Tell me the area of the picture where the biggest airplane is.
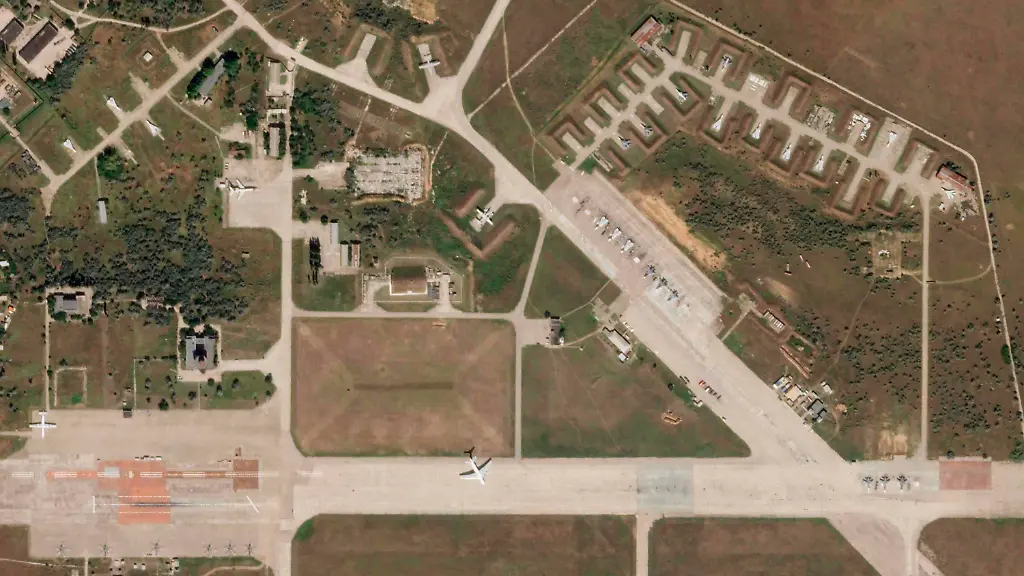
bottom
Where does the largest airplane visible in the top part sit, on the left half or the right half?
left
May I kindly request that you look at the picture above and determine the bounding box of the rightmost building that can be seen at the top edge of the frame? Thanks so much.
[631,17,662,48]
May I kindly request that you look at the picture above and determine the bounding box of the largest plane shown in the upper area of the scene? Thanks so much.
[227,180,253,200]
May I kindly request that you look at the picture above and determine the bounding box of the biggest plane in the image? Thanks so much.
[460,457,492,486]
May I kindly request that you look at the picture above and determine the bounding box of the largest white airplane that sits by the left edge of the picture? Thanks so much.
[29,413,56,437]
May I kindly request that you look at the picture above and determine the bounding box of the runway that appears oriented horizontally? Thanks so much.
[290,457,1024,518]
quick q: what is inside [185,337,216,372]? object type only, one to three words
building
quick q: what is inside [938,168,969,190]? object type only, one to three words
hangar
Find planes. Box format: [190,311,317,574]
[814,157,823,172]
[943,188,956,201]
[880,476,891,490]
[644,263,655,278]
[676,89,688,103]
[460,457,492,486]
[622,238,633,251]
[610,226,622,240]
[656,275,667,289]
[419,56,439,72]
[863,476,874,491]
[227,180,253,200]
[107,97,120,111]
[598,214,608,228]
[61,139,74,153]
[29,413,56,437]
[474,212,490,227]
[668,288,679,301]
[782,146,791,161]
[620,139,632,152]
[148,124,161,137]
[751,124,760,139]
[888,131,897,146]
[897,476,908,491]
[712,116,722,131]
[641,125,653,138]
